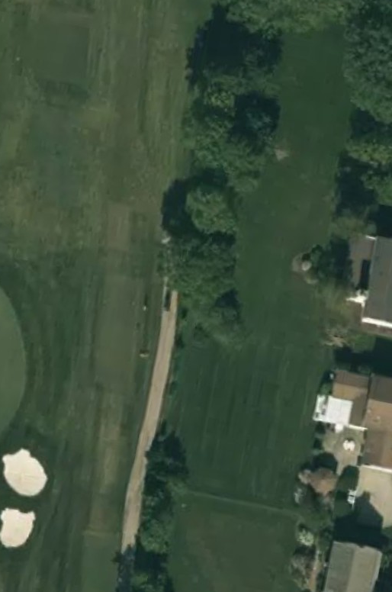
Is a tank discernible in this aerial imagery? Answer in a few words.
No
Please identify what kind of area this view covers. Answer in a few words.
golf course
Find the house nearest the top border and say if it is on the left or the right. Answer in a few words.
right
